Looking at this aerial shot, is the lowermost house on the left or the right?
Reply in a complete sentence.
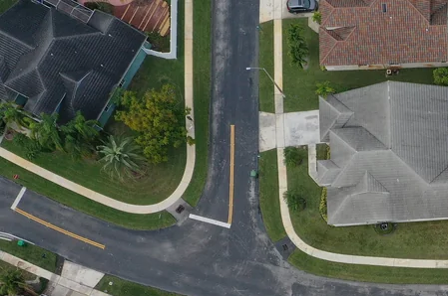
It is on the right.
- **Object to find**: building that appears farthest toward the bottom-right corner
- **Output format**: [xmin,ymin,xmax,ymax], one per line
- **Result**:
[317,80,448,227]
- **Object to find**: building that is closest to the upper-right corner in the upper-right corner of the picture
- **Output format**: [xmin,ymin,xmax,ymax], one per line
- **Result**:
[319,0,448,71]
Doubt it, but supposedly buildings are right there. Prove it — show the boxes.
[0,0,150,132]
[317,80,448,227]
[319,0,448,71]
